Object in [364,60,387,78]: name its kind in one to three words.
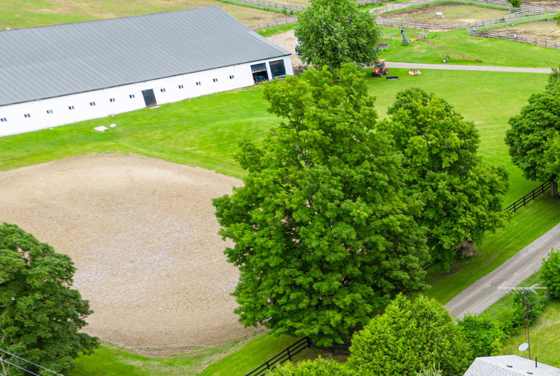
work vehicle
